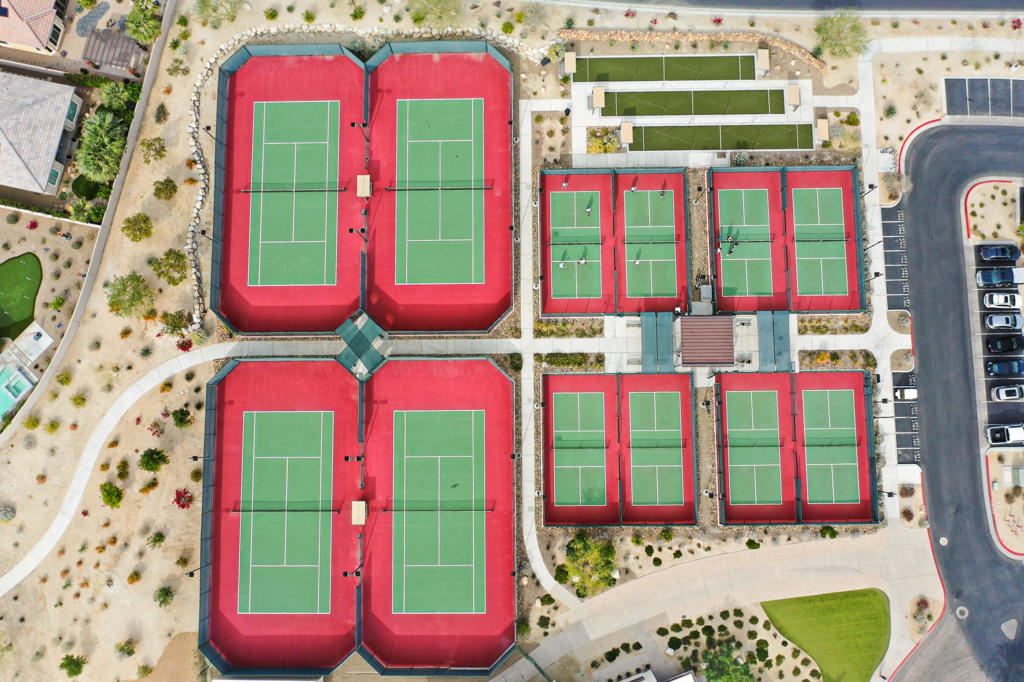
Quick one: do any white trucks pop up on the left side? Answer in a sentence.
No, no white truck appears on the left side.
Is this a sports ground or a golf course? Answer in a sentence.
It's a sports ground.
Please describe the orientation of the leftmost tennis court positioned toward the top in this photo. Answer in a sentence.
The leftmost tennis court positioned toward the top is laid out up and down.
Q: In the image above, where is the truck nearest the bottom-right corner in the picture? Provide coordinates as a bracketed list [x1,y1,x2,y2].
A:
[980,424,1024,446]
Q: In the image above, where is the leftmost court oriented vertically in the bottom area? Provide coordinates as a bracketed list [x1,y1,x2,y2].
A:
[208,361,364,670]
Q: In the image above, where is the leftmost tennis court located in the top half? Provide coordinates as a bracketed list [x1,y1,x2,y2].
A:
[220,55,368,335]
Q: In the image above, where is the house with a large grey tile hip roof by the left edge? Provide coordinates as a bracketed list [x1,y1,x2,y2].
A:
[0,78,86,196]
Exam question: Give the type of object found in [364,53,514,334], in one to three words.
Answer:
tennis court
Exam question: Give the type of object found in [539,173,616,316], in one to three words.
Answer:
sports court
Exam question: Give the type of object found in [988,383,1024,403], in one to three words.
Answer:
car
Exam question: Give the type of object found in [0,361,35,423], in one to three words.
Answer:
swimming pool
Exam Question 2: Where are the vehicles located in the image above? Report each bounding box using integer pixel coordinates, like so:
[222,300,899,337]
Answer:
[988,383,1024,403]
[985,357,1024,377]
[974,266,1024,287]
[893,389,922,400]
[982,312,1023,331]
[980,424,1024,446]
[980,291,1022,310]
[983,334,1024,353]
[977,243,1020,262]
